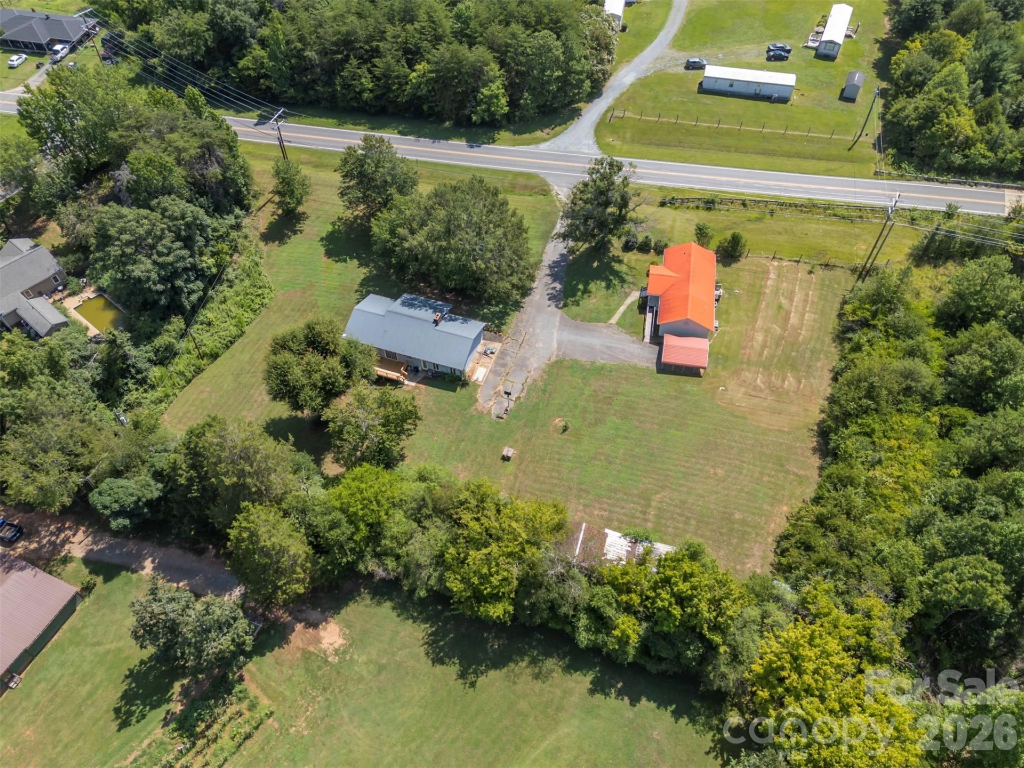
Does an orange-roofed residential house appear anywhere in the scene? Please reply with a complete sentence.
Yes, an orange-roofed residential house is visible in the scene.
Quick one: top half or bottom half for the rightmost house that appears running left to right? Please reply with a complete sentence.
It is in the top half that the rightmost house that appears running left to right appears.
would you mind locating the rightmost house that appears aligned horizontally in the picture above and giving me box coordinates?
[702,68,794,97]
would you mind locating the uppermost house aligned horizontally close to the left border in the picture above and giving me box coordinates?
[0,8,105,53]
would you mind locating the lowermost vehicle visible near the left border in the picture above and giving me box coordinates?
[0,518,26,549]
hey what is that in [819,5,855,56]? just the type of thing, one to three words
house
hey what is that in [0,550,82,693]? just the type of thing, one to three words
barn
